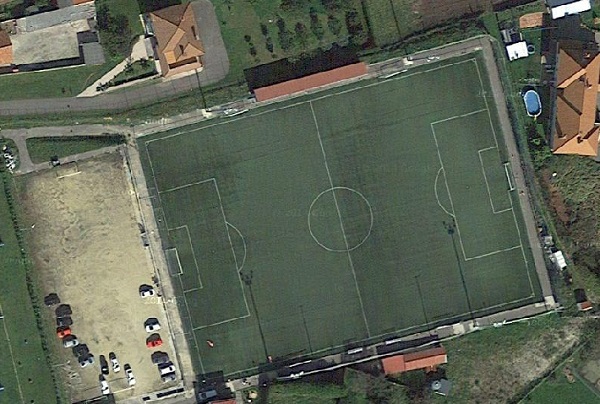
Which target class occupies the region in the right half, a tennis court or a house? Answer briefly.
house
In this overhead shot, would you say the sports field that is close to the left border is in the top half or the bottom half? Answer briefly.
bottom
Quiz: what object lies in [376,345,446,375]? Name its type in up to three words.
building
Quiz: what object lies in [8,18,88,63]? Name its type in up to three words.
house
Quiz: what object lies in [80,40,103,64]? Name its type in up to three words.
building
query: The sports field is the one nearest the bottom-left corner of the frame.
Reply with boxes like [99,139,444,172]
[0,178,56,404]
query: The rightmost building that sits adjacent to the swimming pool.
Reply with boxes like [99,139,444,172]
[547,47,600,156]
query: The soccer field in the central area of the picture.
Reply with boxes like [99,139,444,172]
[136,50,543,386]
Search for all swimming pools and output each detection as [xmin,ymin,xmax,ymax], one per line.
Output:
[522,90,539,118]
